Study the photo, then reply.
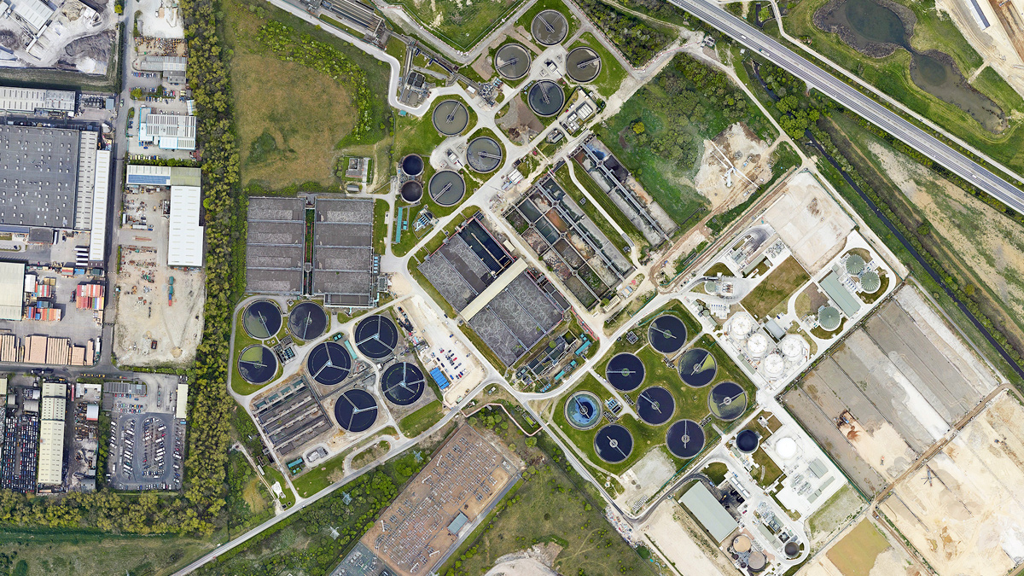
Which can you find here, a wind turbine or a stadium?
wind turbine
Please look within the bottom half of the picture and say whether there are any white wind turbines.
No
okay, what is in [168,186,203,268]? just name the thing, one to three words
building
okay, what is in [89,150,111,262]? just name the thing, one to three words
building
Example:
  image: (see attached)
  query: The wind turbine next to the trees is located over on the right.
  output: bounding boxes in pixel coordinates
[718,144,758,189]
